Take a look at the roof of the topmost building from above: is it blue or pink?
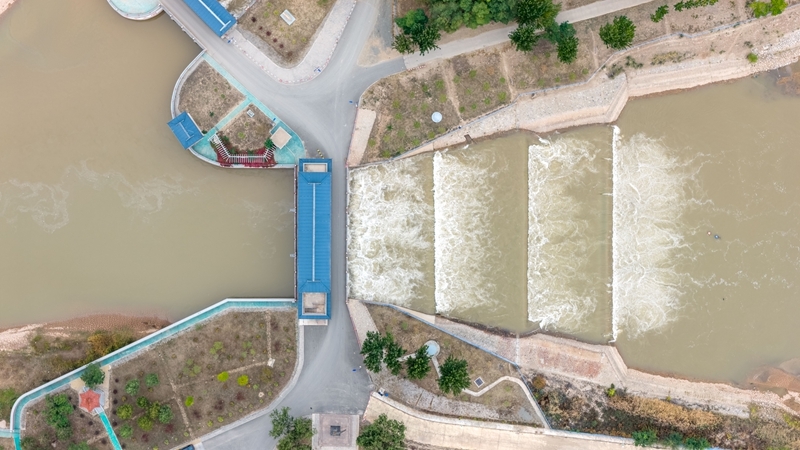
blue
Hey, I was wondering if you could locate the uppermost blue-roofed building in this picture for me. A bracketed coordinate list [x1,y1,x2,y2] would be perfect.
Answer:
[185,0,238,38]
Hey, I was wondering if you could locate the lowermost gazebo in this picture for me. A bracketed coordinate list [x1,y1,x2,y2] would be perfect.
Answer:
[80,385,104,413]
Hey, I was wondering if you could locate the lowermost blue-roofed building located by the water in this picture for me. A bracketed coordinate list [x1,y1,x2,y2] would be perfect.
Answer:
[296,159,332,326]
